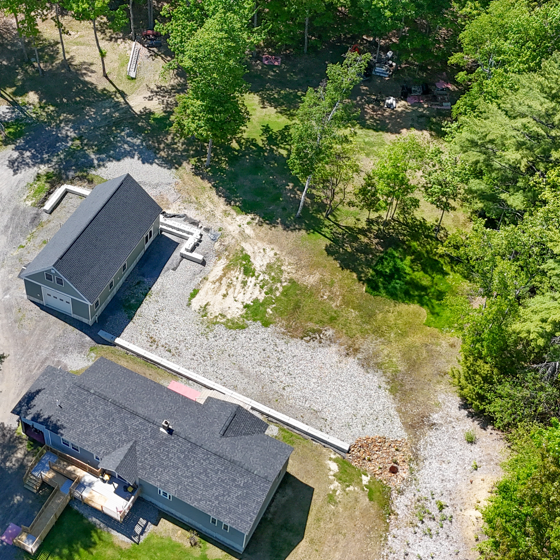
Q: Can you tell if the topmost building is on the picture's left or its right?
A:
left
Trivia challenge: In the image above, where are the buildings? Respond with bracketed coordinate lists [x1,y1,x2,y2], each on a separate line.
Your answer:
[9,357,294,553]
[19,172,163,326]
